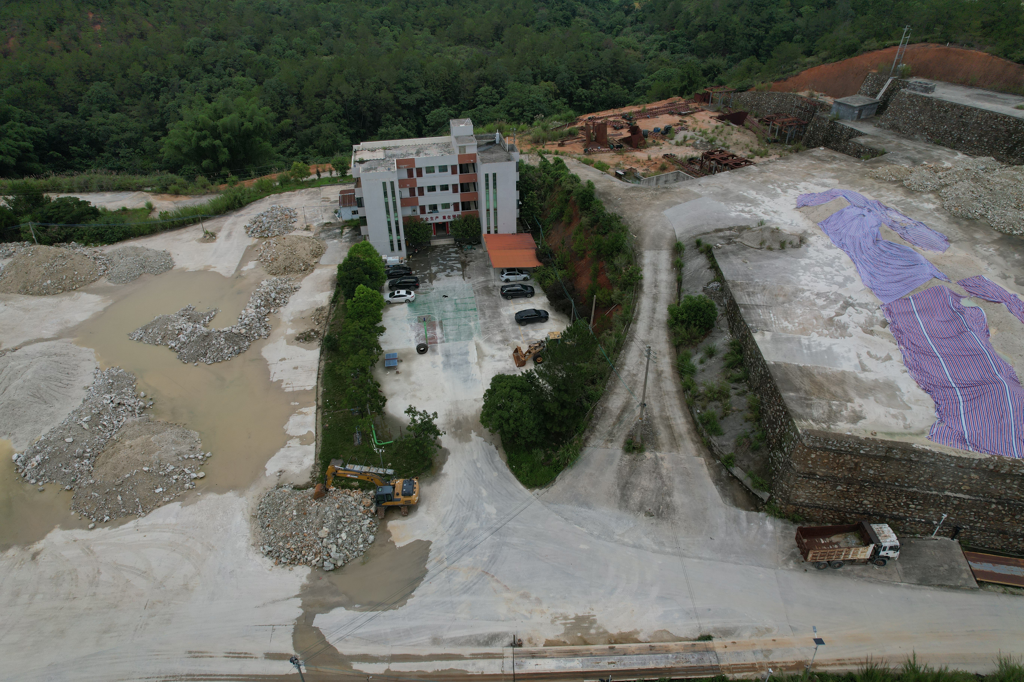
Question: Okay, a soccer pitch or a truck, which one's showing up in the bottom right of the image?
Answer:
truck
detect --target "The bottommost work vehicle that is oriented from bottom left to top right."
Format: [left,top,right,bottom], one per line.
[518,337,561,368]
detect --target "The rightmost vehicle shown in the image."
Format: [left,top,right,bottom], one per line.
[797,525,906,570]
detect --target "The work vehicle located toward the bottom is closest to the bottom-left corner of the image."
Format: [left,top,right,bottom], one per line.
[314,462,422,519]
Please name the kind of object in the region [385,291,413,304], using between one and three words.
vehicle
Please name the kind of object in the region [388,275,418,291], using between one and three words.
car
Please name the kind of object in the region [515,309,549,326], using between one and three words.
car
